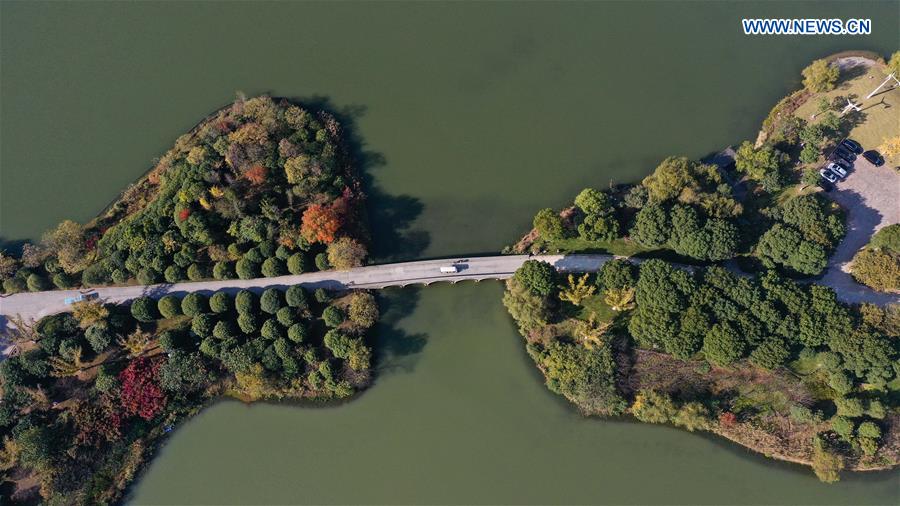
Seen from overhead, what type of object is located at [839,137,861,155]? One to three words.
car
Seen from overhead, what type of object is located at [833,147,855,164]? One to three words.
car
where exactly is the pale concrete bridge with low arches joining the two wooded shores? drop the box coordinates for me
[357,252,522,293]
